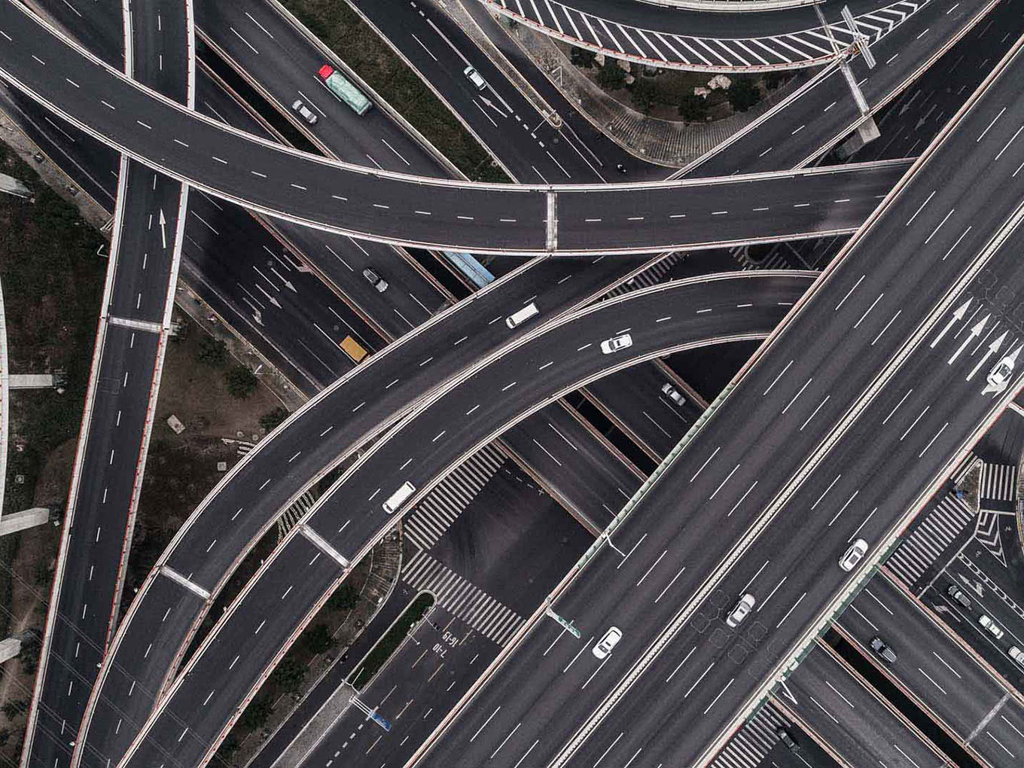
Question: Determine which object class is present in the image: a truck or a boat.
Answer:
truck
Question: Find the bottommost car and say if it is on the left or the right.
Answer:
right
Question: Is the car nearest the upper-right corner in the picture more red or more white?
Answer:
white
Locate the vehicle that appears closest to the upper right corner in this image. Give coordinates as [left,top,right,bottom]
[984,356,1015,388]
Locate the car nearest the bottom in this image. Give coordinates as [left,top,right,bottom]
[774,724,799,750]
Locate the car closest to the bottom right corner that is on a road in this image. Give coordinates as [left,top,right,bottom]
[1004,644,1024,670]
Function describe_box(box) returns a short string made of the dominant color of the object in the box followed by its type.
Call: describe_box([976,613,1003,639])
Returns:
white car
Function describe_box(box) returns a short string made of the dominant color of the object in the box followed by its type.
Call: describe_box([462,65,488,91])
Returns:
white car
